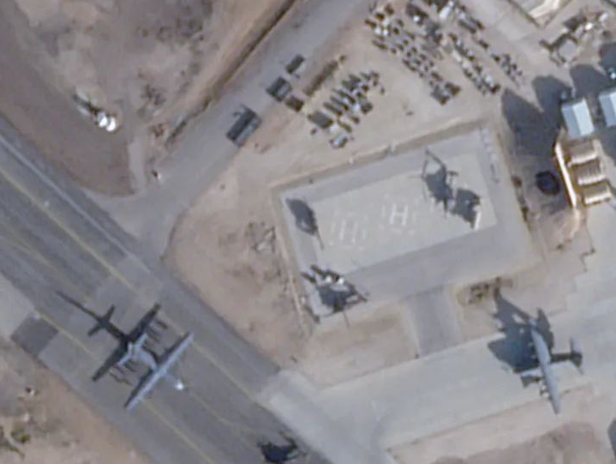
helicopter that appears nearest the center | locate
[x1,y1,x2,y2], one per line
[304,209,327,255]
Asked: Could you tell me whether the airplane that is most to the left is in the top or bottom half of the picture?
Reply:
bottom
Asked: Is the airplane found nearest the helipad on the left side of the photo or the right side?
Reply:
right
